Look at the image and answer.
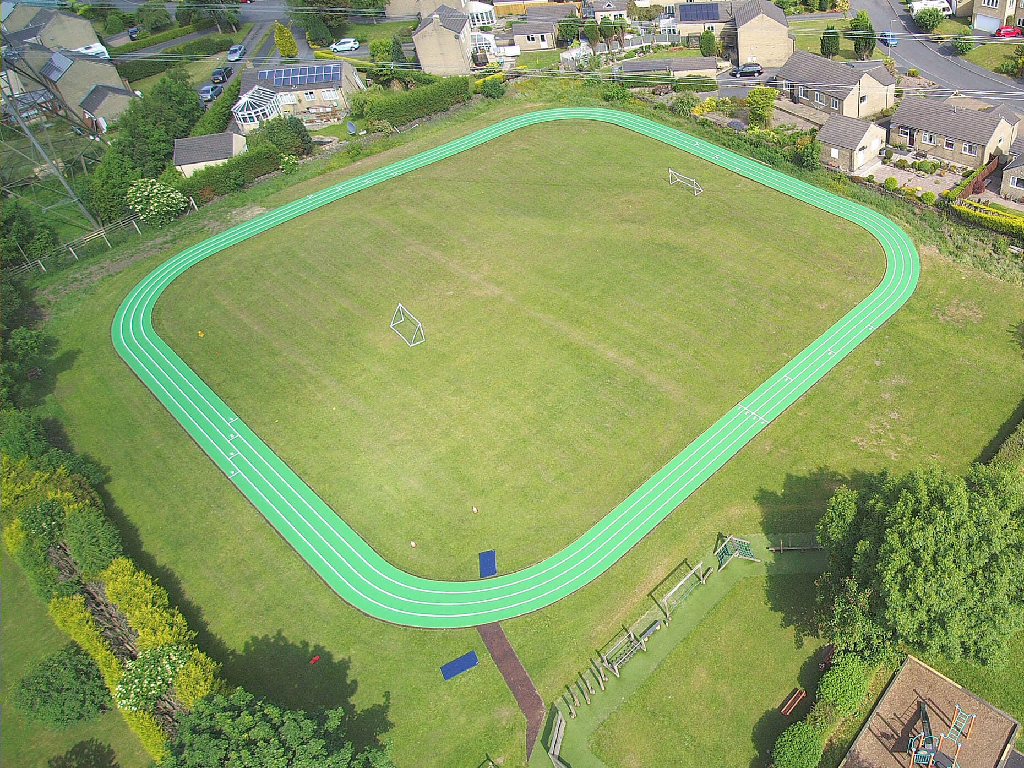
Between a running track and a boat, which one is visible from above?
running track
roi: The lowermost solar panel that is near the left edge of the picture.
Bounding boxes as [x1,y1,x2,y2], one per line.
[41,52,72,79]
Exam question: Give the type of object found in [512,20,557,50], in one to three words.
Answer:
building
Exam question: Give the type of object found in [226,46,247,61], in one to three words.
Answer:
car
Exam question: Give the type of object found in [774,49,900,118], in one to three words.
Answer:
house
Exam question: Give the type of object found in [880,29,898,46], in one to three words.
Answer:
car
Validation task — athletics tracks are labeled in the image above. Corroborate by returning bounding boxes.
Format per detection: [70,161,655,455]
[110,107,922,630]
